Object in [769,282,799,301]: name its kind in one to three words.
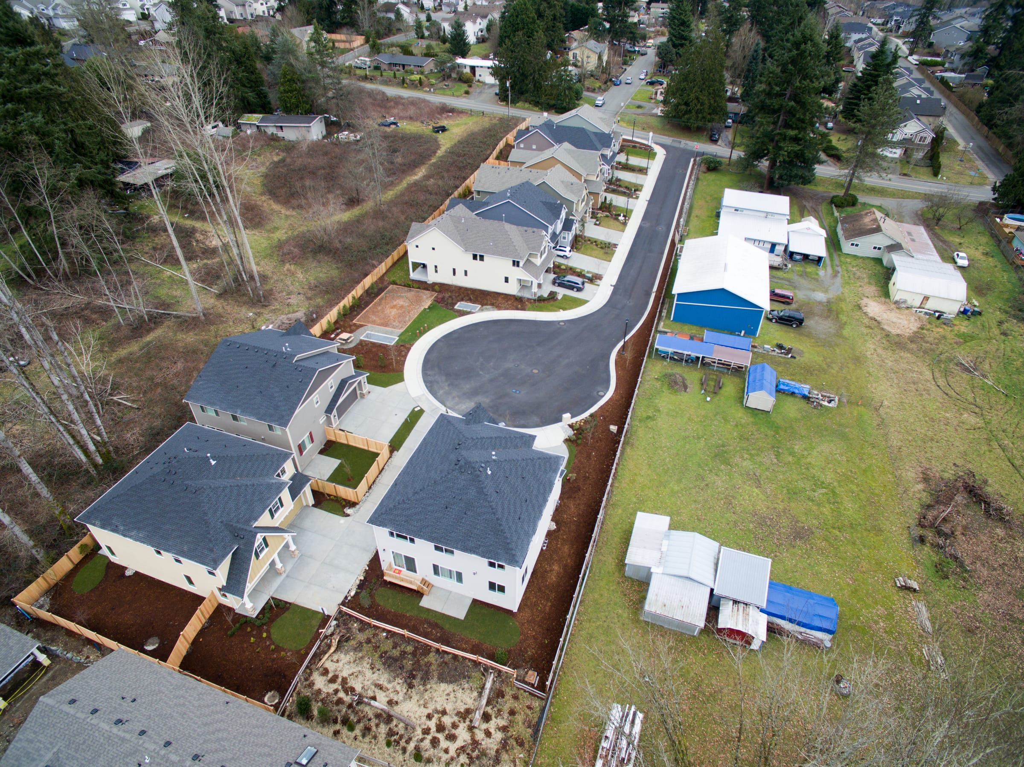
car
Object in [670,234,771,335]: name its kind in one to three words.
building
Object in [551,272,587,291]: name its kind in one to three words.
car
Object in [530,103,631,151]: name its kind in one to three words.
house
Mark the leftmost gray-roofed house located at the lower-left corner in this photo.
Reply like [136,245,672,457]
[0,622,56,680]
